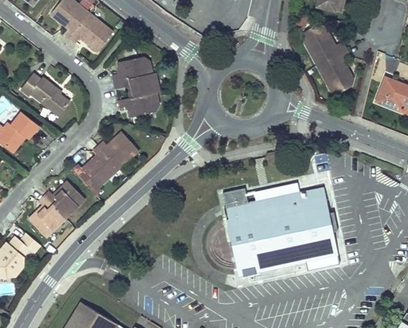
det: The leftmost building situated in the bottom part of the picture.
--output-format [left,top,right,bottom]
[0,231,42,282]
